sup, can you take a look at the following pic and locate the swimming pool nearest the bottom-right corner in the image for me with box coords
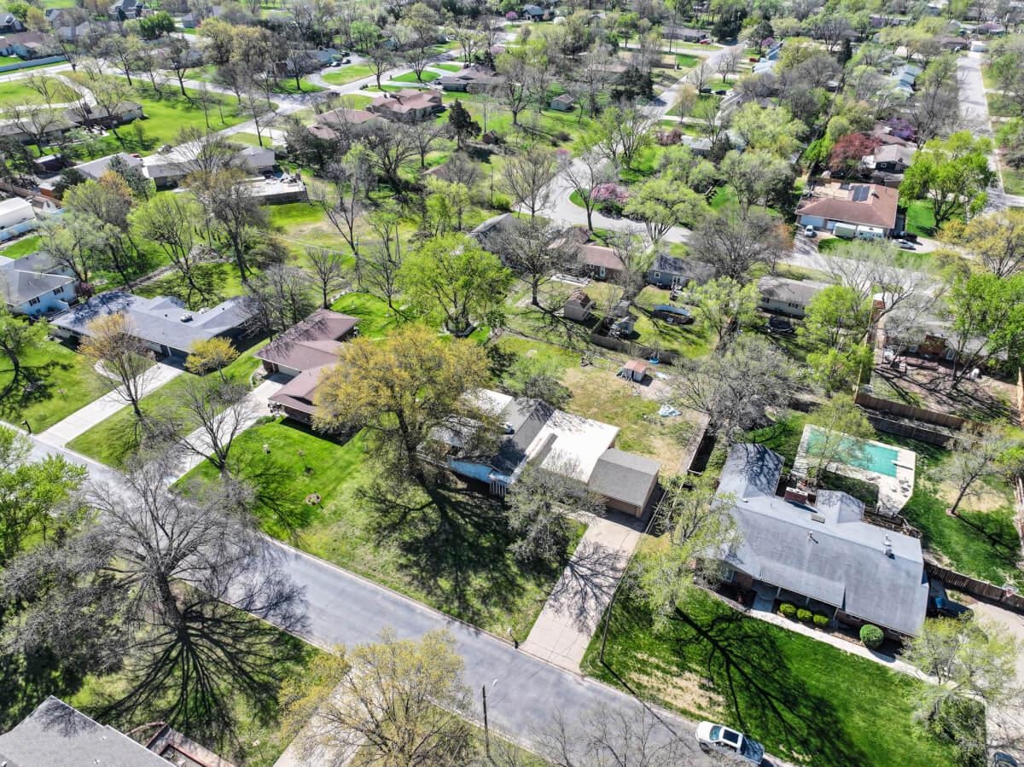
[790,424,915,515]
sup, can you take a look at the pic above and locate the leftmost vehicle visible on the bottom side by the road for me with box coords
[694,721,769,767]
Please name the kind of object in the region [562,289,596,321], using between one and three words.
shed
